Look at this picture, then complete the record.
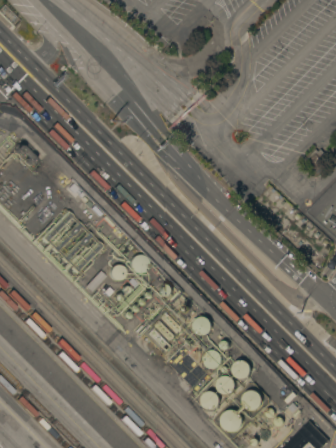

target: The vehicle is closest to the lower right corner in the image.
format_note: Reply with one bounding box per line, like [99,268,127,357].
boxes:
[308,390,336,419]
